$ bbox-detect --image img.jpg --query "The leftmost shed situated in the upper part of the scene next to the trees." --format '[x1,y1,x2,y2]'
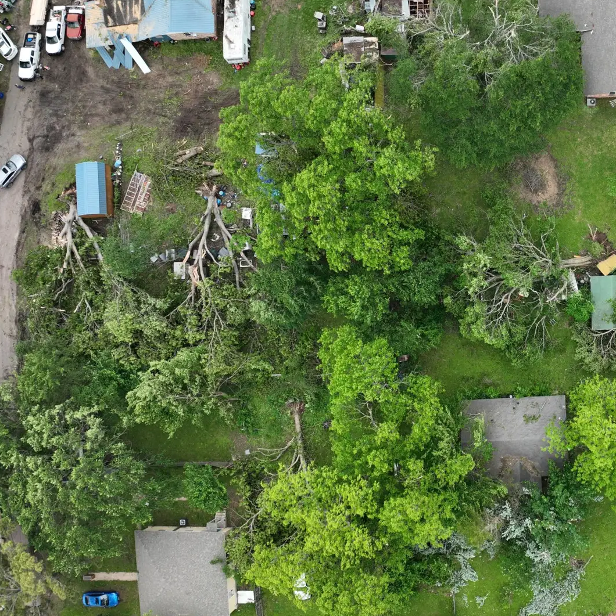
[75,162,117,218]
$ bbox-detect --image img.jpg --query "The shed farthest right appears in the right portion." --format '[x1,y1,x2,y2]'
[591,276,616,330]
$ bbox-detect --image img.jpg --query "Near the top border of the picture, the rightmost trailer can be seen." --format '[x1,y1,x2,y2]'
[225,0,256,68]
